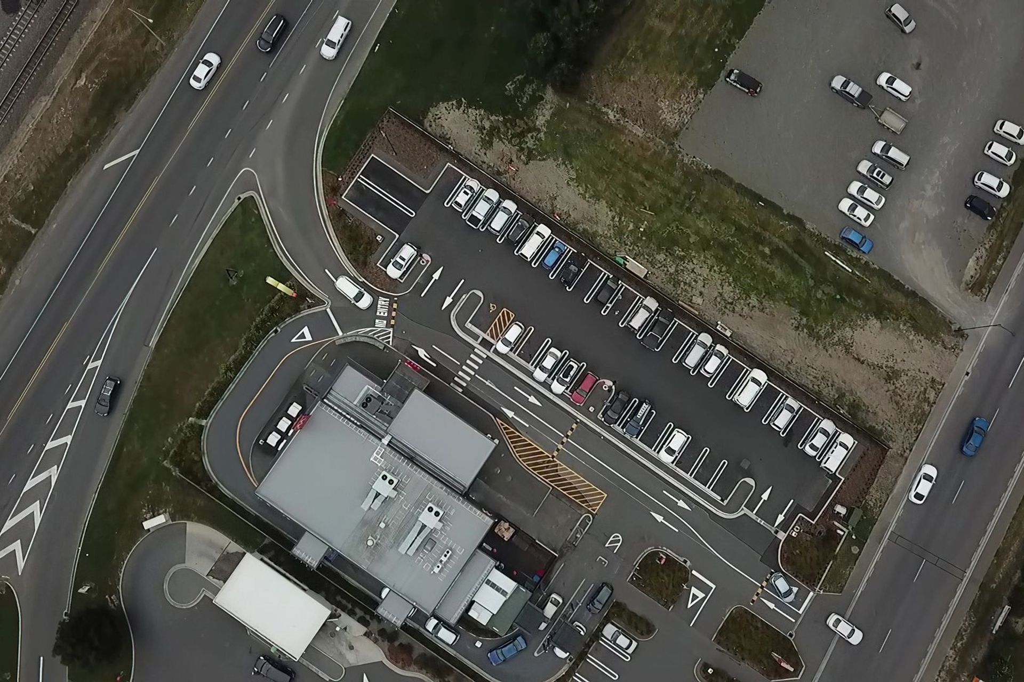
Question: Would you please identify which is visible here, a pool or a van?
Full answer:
This aerial view contains a van.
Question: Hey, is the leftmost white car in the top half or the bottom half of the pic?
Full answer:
It is in the top half that the leftmost white car appears.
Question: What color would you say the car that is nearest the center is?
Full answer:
The car that is nearest the center is white.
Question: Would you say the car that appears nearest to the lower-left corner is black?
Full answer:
Yes, the car that appears nearest to the lower-left corner is indeed black.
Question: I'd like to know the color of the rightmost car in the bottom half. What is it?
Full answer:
In this view, the rightmost car in the bottom half is blue.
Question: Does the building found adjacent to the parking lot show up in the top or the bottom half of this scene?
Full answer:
The building found adjacent to the parking lot is in the bottom half of the image.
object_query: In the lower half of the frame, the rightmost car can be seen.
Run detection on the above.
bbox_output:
[959,416,988,459]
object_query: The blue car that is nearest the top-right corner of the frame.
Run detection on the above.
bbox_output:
[836,225,875,255]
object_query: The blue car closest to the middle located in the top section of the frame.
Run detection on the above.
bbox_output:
[540,240,566,272]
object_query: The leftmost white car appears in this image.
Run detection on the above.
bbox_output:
[190,51,222,93]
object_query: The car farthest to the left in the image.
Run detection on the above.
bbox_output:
[95,375,123,416]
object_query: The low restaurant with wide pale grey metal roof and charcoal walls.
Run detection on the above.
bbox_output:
[255,360,498,629]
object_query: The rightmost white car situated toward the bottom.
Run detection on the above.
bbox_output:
[906,462,936,506]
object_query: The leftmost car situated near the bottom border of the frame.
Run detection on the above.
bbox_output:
[254,654,296,682]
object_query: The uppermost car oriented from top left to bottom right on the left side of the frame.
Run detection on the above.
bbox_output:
[335,274,374,310]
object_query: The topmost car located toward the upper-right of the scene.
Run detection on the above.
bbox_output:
[881,2,916,36]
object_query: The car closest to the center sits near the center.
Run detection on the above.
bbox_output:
[496,319,525,355]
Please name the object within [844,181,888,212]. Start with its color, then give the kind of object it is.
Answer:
white car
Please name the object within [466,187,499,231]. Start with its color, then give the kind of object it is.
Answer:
white truck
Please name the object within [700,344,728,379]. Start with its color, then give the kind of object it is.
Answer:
white car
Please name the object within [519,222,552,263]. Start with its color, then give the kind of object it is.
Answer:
white van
